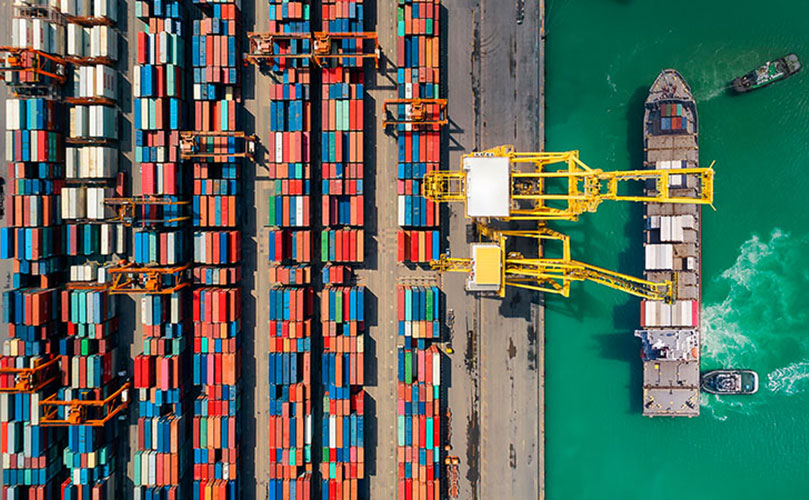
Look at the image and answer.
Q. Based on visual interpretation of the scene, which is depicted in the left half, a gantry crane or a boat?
gantry crane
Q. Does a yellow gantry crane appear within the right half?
Yes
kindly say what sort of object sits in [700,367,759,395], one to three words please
boat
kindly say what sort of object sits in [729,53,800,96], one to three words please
boat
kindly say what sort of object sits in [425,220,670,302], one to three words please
container crane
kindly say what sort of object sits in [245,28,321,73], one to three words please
container crane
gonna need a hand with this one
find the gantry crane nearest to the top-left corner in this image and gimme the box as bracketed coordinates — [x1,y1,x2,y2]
[0,43,70,85]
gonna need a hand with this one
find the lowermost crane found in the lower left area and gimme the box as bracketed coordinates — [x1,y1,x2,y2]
[38,378,131,427]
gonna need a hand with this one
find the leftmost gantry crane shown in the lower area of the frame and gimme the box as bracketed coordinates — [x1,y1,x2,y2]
[0,349,63,395]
